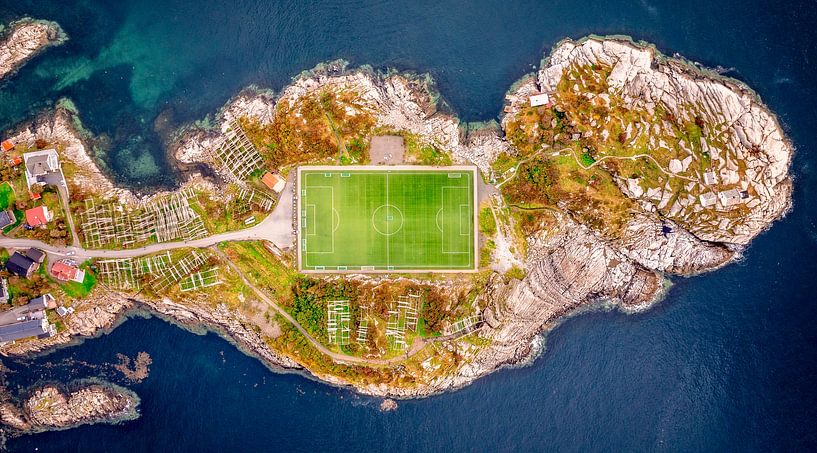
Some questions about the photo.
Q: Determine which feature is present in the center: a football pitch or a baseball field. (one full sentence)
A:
Visible in the center is a football pitch.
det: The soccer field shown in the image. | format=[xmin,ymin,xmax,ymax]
[298,167,478,272]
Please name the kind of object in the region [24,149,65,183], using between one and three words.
house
